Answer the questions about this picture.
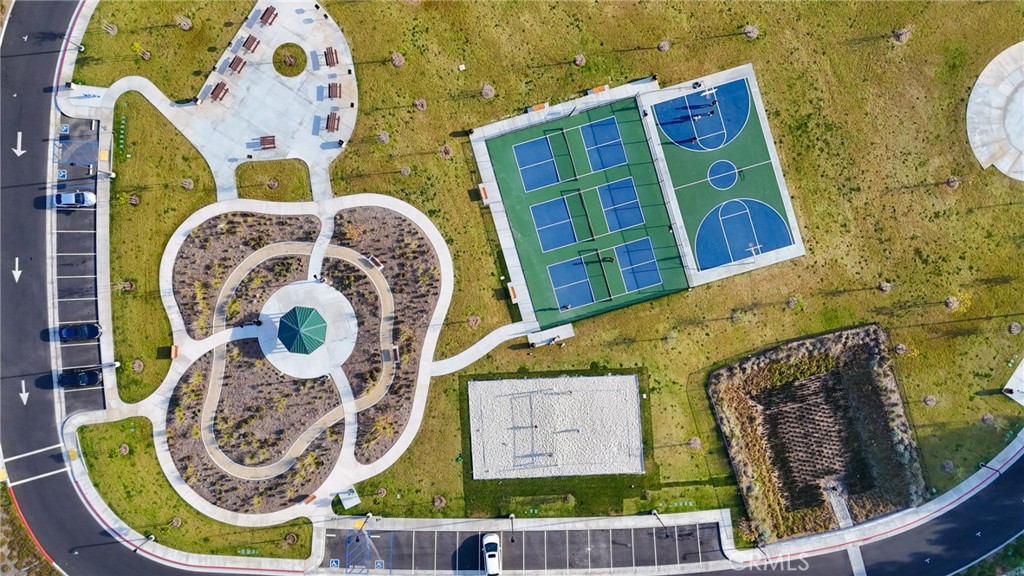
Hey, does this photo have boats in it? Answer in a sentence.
No, no boat can be seen from above.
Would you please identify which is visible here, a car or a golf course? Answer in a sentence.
Of the two, only a car appears.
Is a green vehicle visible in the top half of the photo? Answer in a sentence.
No, I can find no green vehicle in the top half of the photo.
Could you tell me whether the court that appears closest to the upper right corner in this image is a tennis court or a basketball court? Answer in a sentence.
In the photo, the court that appears closest to the upper right corner shows up as a basketball court.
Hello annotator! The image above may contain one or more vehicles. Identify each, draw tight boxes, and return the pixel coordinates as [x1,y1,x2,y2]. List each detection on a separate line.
[59,323,101,342]
[54,189,96,208]
[481,533,501,576]
[58,370,101,388]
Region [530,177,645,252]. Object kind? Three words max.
sports court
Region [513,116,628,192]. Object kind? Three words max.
sports court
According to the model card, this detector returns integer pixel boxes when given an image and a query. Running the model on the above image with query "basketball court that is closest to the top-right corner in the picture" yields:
[653,77,797,272]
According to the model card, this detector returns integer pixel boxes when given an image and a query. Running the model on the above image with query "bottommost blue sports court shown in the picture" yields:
[548,237,663,312]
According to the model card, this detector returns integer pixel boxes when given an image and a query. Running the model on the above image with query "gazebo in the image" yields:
[278,306,326,354]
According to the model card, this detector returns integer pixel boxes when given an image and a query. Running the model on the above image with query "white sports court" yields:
[468,374,645,480]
